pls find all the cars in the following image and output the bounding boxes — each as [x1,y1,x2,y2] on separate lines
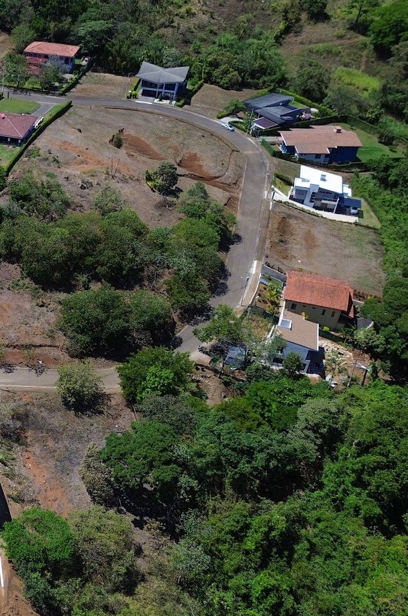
[220,123,237,130]
[345,208,365,217]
